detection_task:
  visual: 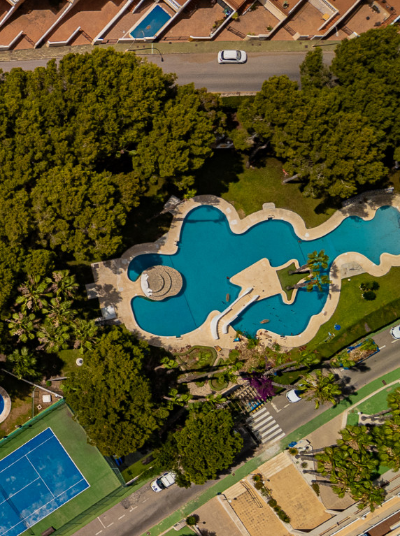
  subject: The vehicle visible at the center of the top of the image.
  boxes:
[220,47,248,62]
